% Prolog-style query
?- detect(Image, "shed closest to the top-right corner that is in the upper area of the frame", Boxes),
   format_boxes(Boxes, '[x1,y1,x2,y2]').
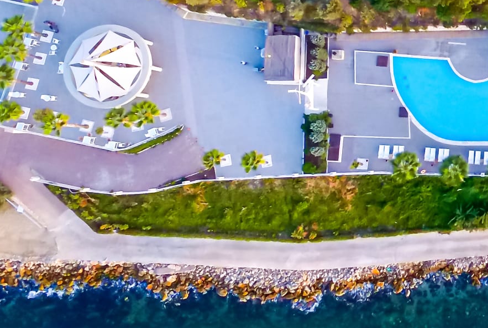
[265,35,299,85]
